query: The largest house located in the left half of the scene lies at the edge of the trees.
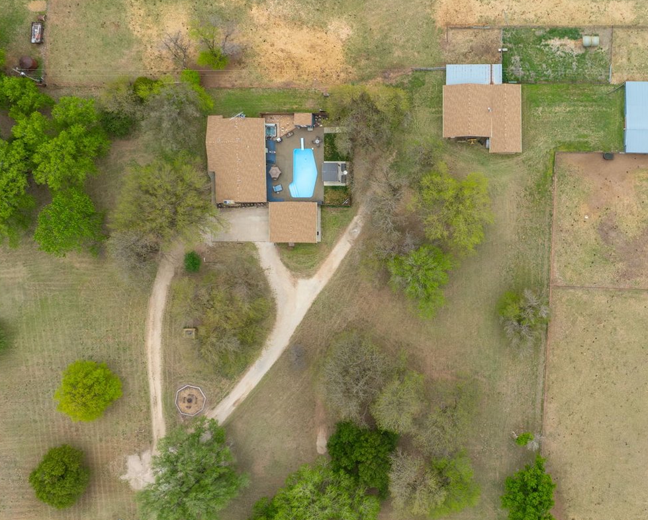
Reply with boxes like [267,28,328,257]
[205,115,269,202]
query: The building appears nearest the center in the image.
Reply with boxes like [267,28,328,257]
[269,202,320,243]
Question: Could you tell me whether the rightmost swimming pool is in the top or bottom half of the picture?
top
